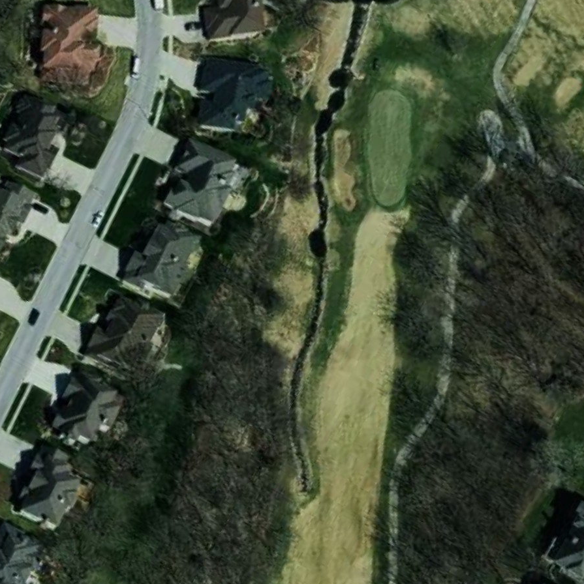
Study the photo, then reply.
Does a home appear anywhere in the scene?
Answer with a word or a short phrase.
Yes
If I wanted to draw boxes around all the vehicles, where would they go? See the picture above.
[29,309,40,325]
[132,59,140,74]
[38,204,49,214]
[92,210,103,225]
[154,0,162,8]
